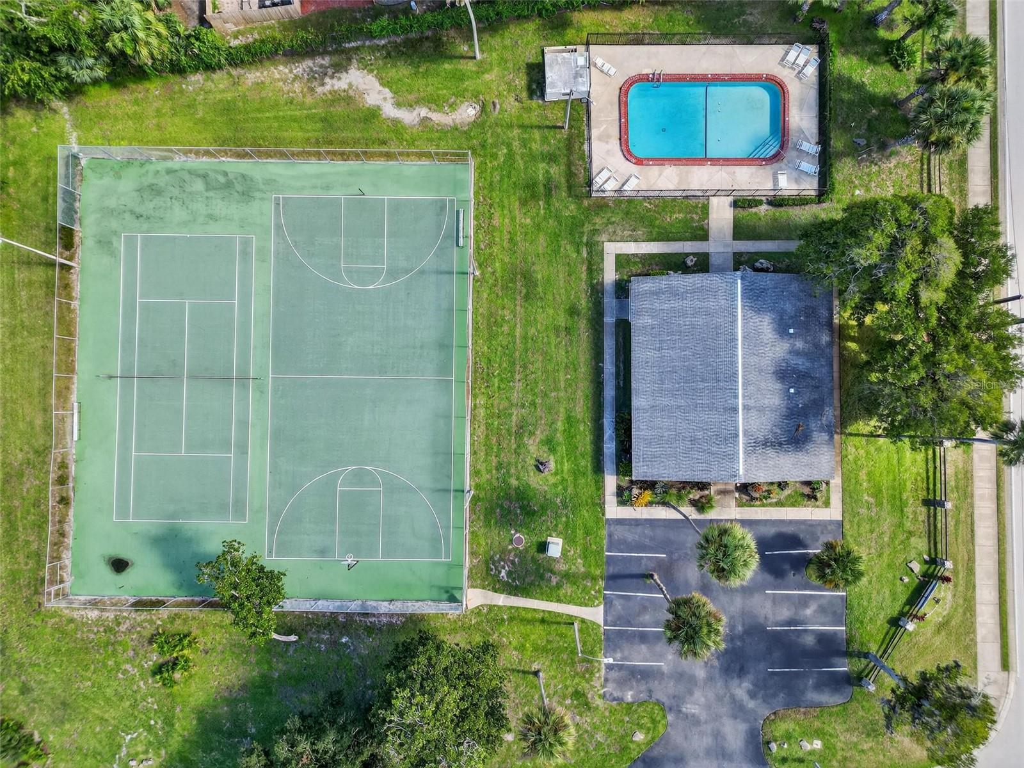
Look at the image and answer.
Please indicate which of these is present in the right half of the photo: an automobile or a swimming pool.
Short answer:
swimming pool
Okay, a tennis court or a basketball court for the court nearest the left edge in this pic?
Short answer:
tennis court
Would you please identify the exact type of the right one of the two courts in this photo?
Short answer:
basketball court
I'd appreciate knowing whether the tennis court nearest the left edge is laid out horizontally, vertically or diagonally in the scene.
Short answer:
vertically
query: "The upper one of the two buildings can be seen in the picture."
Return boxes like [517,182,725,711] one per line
[543,45,589,100]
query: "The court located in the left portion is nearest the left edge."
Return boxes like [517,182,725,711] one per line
[114,234,254,523]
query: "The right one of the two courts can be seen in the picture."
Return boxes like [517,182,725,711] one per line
[266,196,456,561]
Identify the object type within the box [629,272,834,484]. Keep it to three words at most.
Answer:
building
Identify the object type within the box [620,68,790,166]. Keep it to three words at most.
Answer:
swimming pool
